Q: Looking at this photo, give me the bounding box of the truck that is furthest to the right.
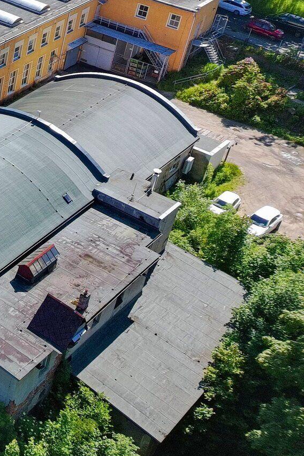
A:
[281,6,304,32]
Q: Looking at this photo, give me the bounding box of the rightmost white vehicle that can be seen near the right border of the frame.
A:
[233,198,291,237]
